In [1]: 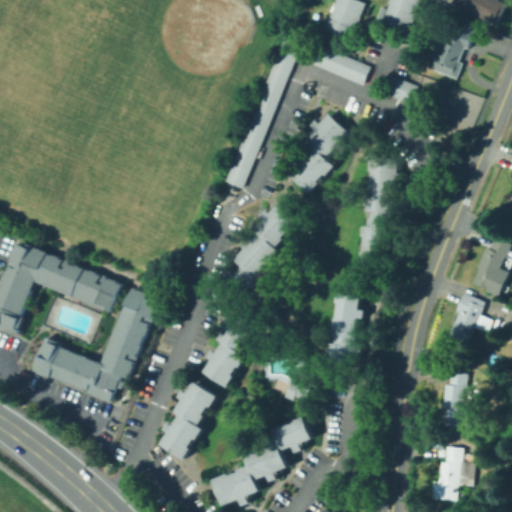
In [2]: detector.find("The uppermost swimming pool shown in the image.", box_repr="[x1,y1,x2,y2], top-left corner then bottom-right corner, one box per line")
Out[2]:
[46,298,102,343]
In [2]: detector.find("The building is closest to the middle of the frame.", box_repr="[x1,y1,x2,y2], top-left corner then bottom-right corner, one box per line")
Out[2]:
[235,206,281,274]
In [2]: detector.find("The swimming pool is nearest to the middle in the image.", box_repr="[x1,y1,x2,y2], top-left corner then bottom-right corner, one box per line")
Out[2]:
[265,359,294,386]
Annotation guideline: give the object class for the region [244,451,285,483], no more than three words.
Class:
building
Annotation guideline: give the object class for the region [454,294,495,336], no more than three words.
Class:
house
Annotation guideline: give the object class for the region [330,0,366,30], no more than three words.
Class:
house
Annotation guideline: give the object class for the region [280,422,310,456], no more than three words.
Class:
building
